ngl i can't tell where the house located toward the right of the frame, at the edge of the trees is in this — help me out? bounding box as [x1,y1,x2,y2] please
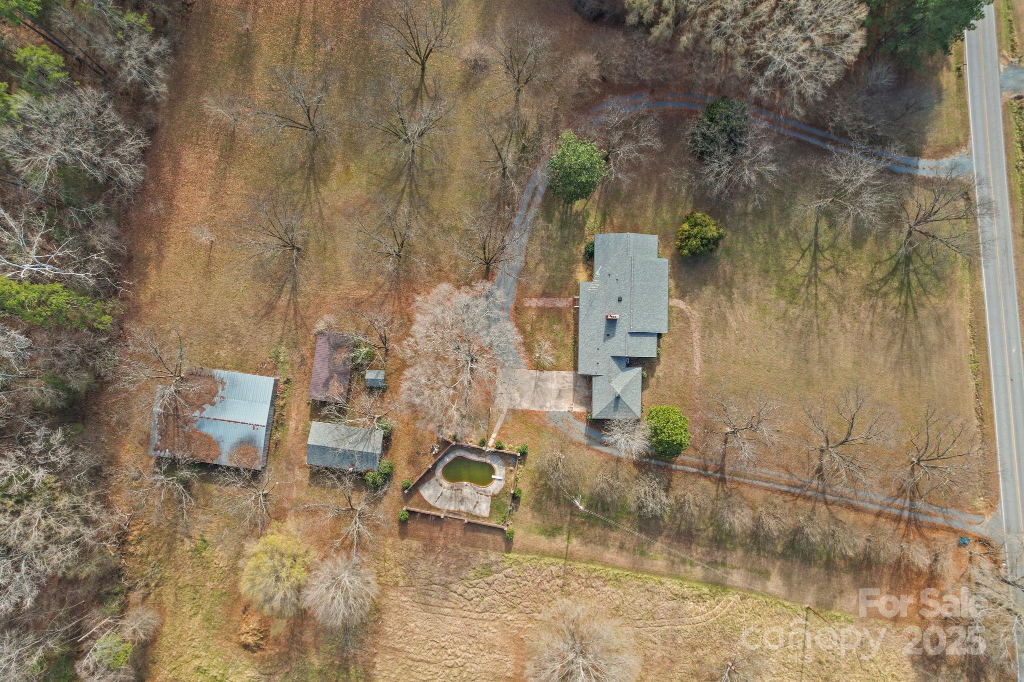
[574,232,668,420]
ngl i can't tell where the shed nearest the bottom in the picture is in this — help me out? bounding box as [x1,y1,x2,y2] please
[307,421,383,472]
